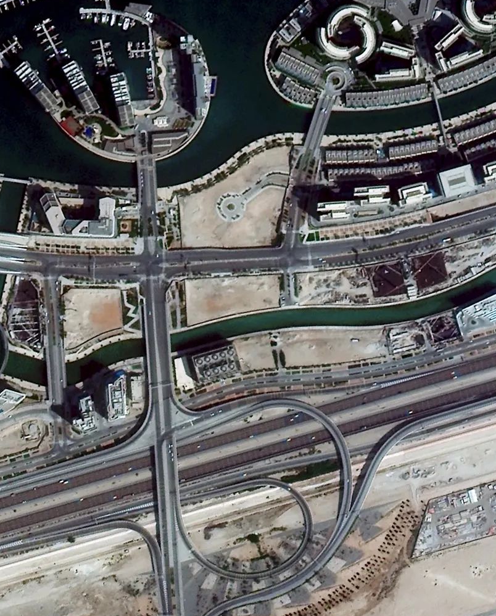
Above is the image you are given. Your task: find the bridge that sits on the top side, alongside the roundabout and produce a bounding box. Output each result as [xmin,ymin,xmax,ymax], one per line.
[296,91,336,172]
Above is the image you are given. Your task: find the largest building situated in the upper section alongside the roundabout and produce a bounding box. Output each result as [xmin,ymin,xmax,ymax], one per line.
[313,5,377,65]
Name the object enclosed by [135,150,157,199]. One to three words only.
bridge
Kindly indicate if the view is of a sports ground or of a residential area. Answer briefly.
residential area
